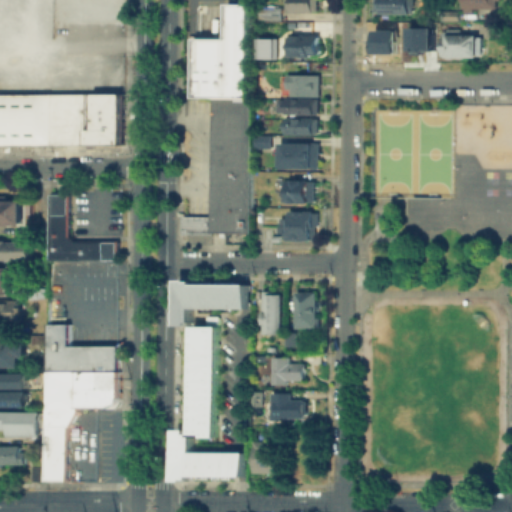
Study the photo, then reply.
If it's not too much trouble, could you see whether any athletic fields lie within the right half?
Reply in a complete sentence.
Yes, an athletic field can be seen within the right half.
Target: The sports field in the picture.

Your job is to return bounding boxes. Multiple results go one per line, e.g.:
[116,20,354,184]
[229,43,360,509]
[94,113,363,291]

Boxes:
[368,306,498,476]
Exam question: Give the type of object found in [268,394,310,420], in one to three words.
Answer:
house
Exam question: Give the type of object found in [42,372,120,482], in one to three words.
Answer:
building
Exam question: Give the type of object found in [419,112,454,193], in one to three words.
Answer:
sports court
